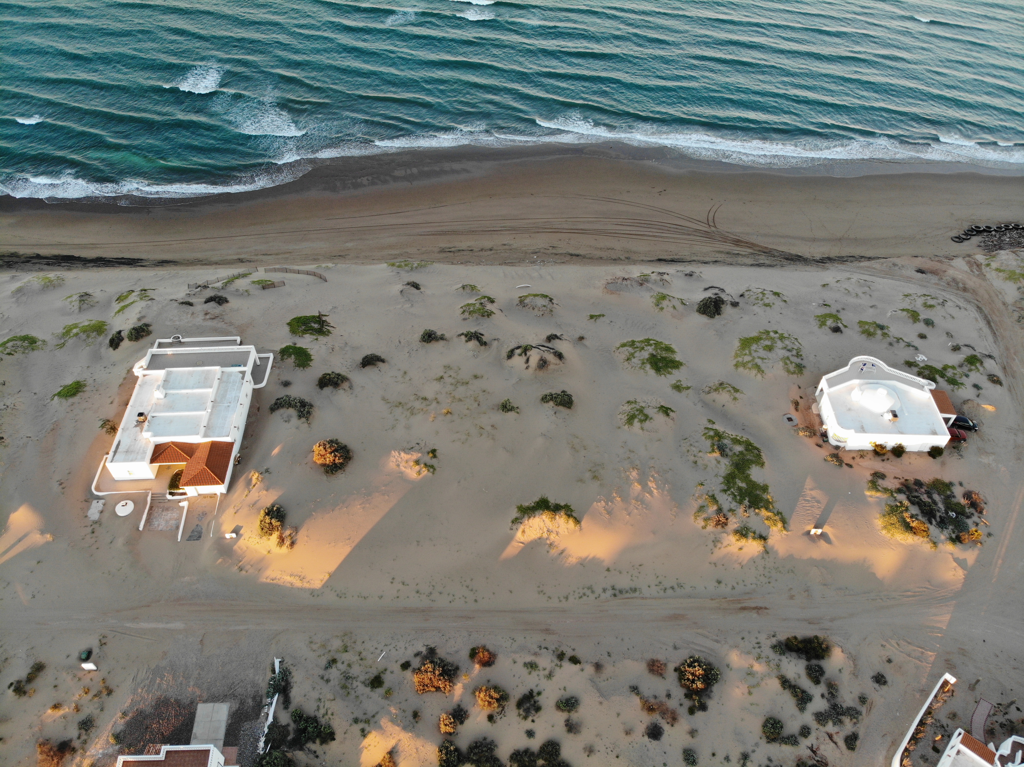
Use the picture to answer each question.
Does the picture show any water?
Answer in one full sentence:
Yes, water can be seen from above here.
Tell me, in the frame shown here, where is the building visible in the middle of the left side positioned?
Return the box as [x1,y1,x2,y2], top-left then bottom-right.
[106,345,262,500]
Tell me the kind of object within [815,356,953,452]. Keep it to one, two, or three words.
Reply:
house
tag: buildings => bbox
[815,356,953,452]
[932,729,1024,767]
[106,345,262,500]
[116,746,224,767]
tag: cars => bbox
[947,426,970,445]
[949,416,981,433]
